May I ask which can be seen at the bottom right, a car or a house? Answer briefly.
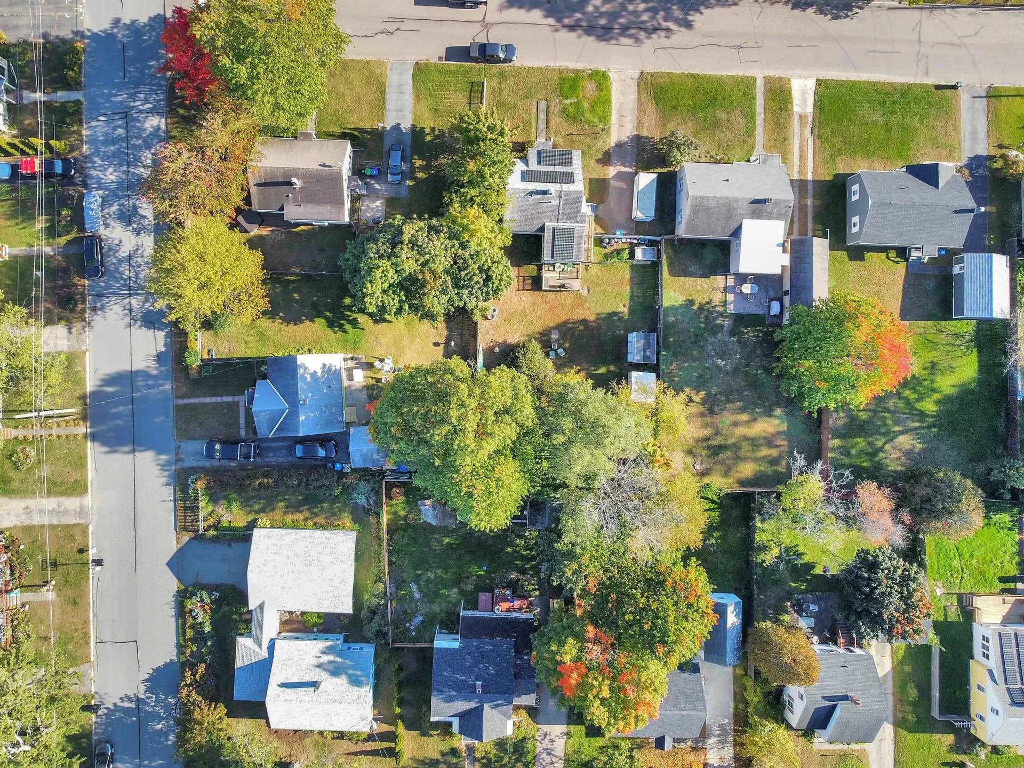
house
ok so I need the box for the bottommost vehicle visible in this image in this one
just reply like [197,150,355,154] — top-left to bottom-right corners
[91,737,113,768]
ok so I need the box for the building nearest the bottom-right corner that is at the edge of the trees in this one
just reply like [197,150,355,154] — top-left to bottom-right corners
[961,594,1024,745]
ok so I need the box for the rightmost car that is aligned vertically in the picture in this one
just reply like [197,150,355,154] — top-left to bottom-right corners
[384,141,403,184]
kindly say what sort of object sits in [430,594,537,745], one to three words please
house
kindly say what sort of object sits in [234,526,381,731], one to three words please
house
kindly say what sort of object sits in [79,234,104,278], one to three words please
car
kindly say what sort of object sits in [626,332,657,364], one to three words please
shed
